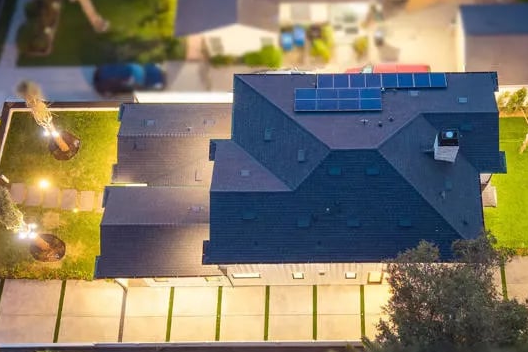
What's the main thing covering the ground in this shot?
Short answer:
buildings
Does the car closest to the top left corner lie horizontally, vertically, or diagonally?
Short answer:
horizontally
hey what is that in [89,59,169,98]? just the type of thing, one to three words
car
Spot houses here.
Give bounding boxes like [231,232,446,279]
[175,0,447,58]
[94,71,505,290]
